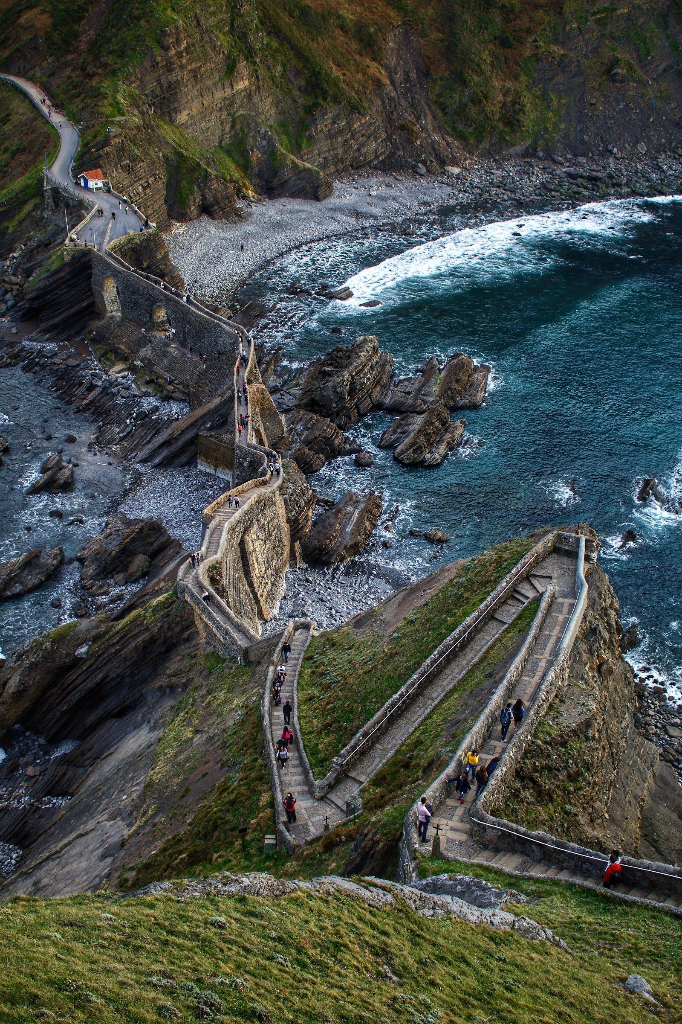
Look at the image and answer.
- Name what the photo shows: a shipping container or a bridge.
bridge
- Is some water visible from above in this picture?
Yes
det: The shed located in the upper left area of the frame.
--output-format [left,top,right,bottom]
[72,171,105,193]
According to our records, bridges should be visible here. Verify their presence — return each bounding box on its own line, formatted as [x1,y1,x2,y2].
[92,249,294,458]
